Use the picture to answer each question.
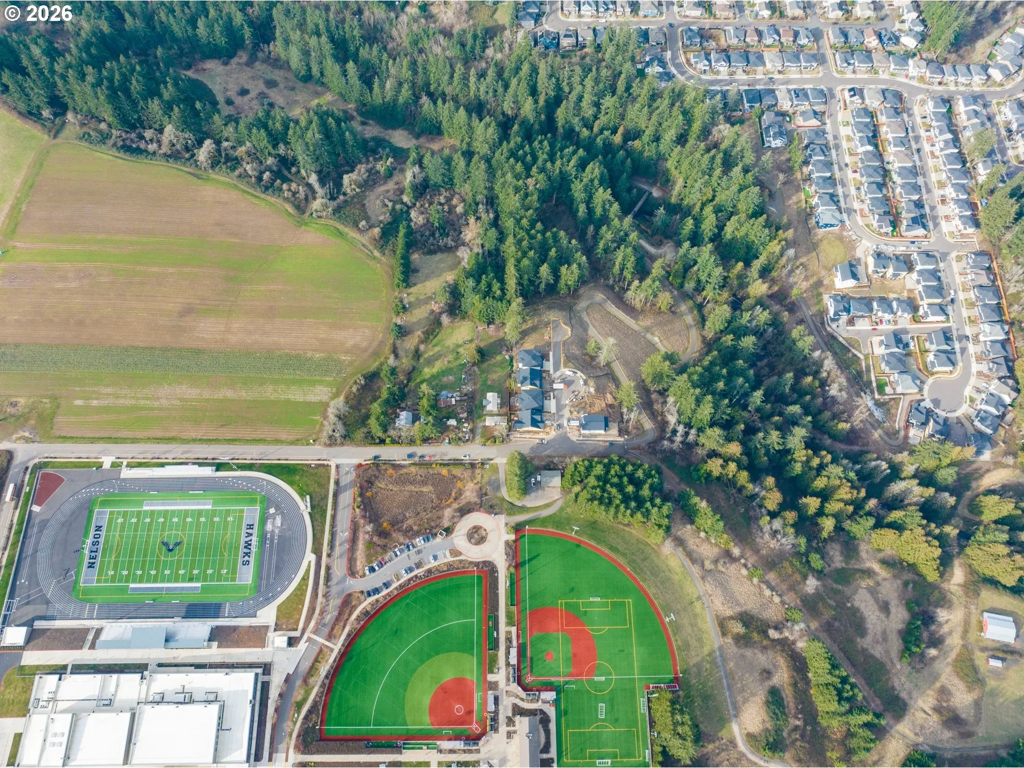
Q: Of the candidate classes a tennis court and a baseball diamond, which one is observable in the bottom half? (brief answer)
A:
baseball diamond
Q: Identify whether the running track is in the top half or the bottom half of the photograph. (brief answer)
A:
bottom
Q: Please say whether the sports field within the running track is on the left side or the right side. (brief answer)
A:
left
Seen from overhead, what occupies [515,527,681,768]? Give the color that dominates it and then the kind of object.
green baseball field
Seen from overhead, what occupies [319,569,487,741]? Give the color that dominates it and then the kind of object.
green baseball field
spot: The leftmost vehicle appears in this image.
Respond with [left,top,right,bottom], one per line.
[4,483,17,500]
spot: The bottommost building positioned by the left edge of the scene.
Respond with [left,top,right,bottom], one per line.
[15,671,267,768]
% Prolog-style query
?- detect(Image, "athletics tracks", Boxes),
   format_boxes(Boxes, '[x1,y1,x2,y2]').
[0,467,315,627]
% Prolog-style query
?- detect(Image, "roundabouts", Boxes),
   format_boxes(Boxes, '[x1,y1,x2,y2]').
[454,513,500,558]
